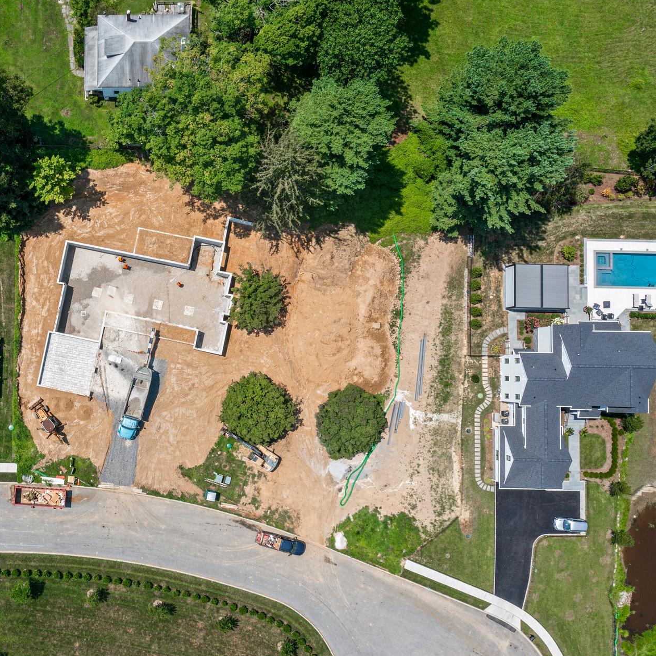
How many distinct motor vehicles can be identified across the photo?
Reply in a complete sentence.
I count 5 motor vehicles.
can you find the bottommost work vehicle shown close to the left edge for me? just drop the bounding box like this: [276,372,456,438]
[26,393,62,444]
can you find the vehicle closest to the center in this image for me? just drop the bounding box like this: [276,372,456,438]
[225,428,283,473]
